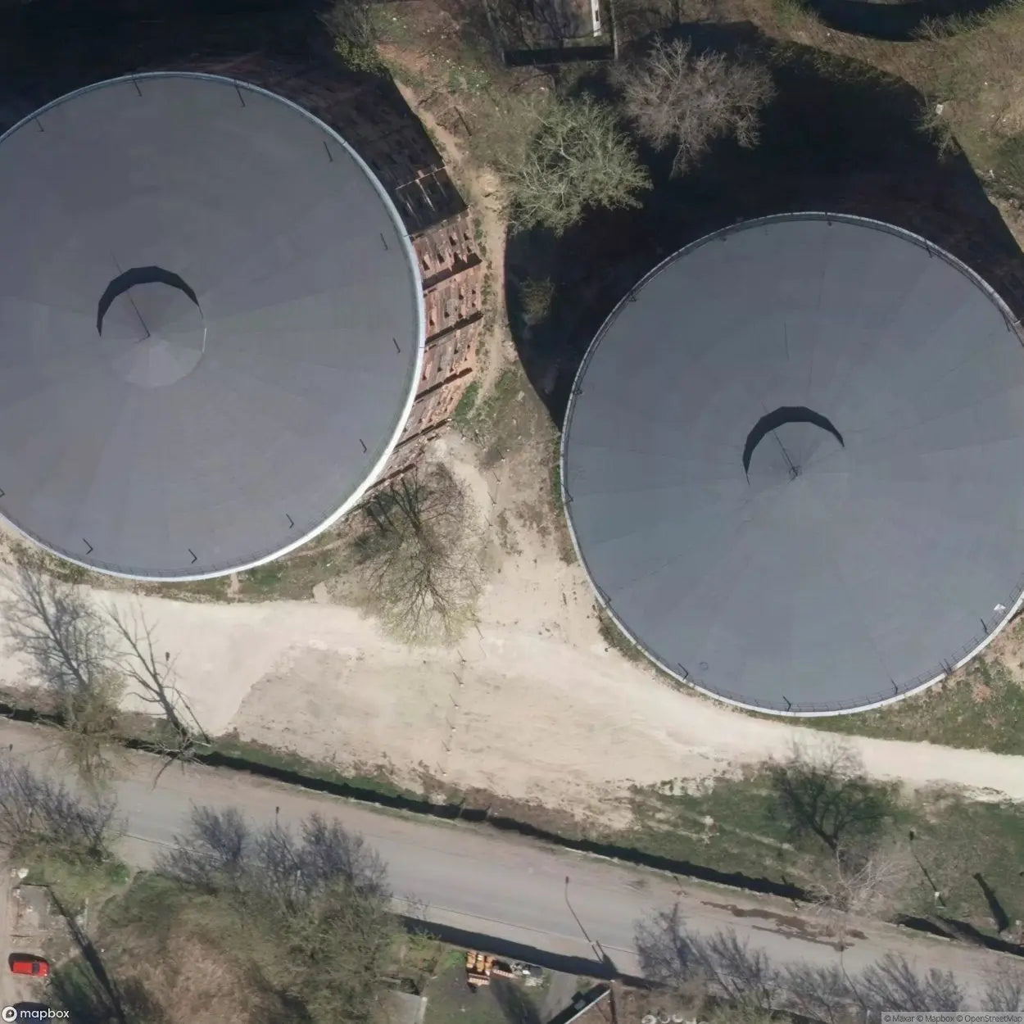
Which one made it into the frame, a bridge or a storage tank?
storage tank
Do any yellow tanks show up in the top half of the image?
No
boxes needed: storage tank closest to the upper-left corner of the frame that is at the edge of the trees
[0,58,484,583]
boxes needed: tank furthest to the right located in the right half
[562,196,1024,714]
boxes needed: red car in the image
[12,958,51,977]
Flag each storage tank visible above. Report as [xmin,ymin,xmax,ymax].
[0,58,484,583]
[562,196,1024,714]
